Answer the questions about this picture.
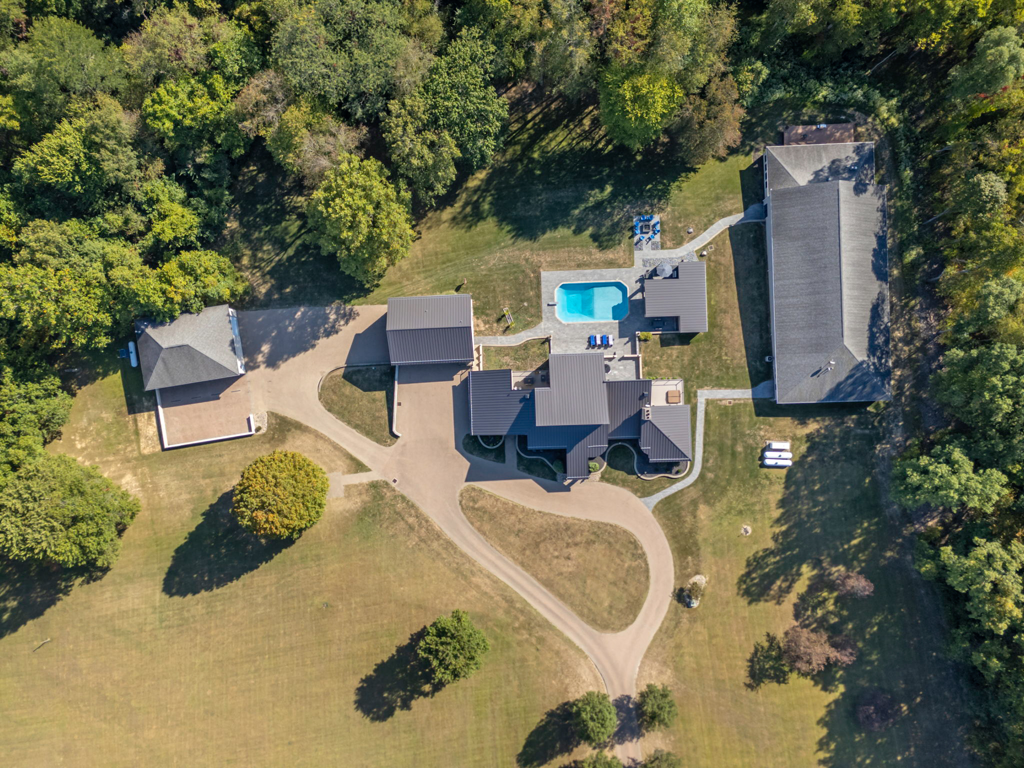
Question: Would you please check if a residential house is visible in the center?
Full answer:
Yes, you'll find a residential house in the center.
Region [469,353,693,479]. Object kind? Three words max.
house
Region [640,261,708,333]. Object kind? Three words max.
building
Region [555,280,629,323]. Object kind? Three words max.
swimming pool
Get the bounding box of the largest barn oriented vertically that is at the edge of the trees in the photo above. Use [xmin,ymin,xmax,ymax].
[761,142,892,404]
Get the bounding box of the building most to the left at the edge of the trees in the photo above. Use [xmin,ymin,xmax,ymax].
[135,305,245,390]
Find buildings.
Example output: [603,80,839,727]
[761,142,892,404]
[469,353,693,479]
[386,294,475,366]
[135,305,245,390]
[640,261,708,333]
